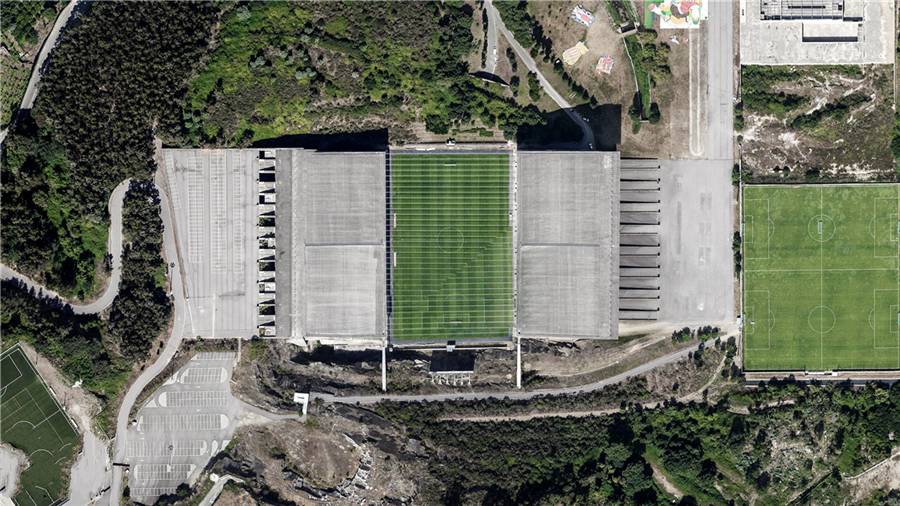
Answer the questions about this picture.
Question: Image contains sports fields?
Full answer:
Yes, there's a sports field down there.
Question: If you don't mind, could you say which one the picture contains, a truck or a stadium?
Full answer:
Looking from above, you can make out a stadium.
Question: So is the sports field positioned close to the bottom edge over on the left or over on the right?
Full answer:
It is on the left.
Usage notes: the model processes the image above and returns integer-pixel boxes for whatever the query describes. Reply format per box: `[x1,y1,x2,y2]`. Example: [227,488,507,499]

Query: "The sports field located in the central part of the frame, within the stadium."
[393,152,509,340]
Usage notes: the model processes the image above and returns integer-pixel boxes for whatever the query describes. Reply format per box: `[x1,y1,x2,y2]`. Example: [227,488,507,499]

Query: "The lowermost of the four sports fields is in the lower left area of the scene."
[0,345,80,506]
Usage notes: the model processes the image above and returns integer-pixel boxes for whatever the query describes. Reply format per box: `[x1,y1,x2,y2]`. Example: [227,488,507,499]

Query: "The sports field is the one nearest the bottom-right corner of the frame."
[744,269,900,371]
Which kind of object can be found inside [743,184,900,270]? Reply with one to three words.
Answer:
sports field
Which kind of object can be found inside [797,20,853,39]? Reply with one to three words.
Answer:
building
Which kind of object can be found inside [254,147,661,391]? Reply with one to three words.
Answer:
stadium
